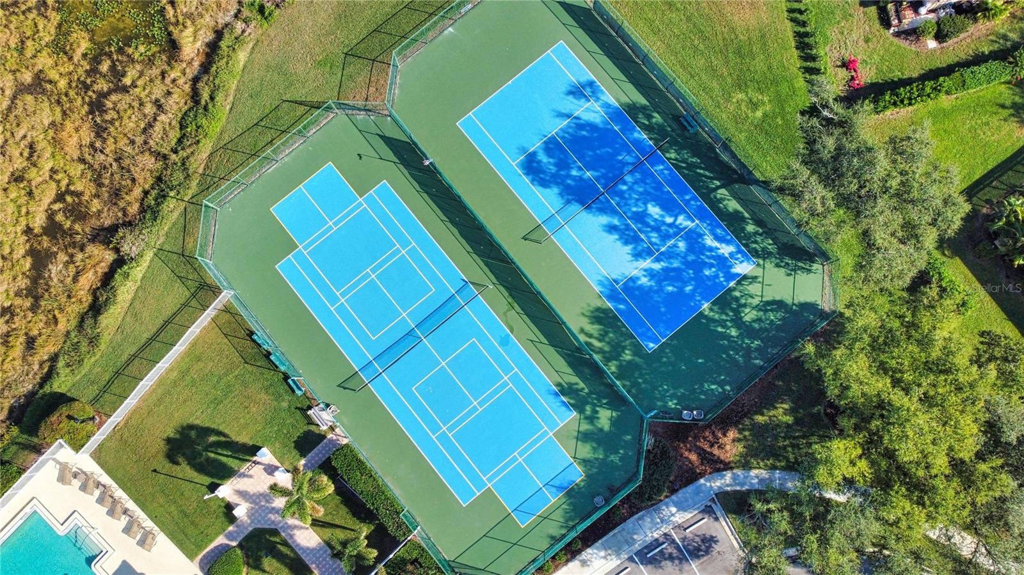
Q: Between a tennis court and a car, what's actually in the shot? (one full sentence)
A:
The one in the frame is a tennis court.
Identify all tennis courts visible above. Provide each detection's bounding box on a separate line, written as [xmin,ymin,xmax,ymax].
[212,113,641,575]
[390,0,823,420]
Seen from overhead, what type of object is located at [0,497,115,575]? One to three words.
swimming pool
